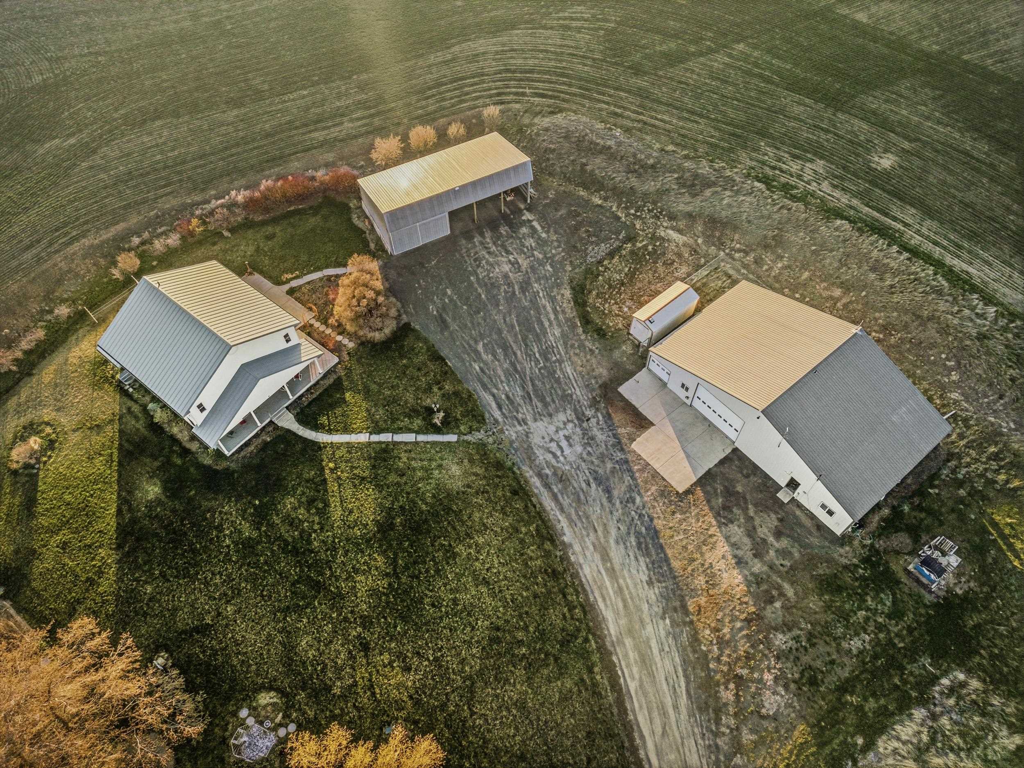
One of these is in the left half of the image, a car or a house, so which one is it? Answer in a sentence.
Looking in the left half of the image, you will find a house.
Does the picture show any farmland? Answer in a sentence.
Yes, some farmland is visible.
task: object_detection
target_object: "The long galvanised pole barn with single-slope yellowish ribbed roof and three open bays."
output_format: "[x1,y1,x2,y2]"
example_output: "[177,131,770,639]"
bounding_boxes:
[358,131,531,255]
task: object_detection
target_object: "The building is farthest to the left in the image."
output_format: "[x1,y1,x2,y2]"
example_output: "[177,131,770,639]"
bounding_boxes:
[97,260,341,459]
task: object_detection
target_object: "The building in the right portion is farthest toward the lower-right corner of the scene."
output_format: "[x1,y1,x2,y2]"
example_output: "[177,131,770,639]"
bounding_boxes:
[646,280,956,535]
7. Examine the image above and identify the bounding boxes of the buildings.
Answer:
[646,280,956,535]
[358,131,531,255]
[97,260,341,459]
